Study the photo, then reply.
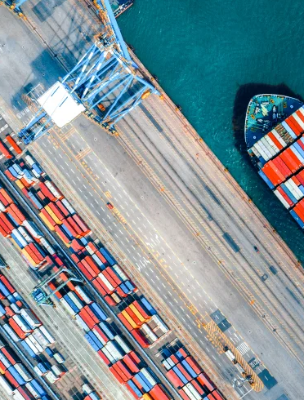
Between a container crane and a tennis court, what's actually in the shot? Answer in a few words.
container crane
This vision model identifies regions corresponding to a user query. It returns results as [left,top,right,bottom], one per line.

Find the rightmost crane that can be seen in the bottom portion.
[25,268,86,311]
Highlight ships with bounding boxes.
[244,93,304,229]
[104,0,134,18]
